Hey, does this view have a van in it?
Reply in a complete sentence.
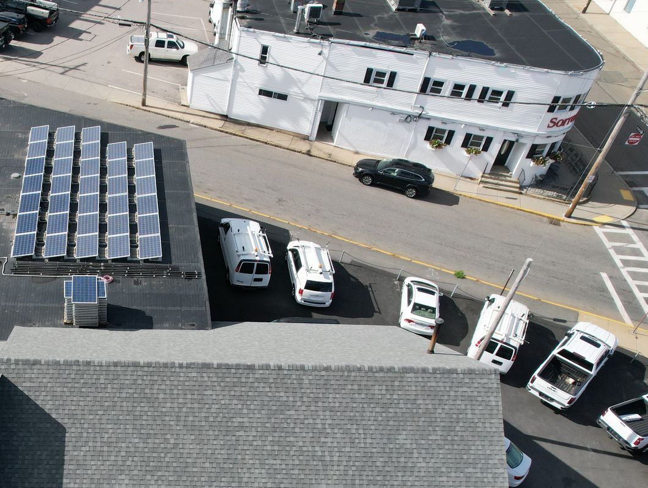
Yes, a van appears in the view.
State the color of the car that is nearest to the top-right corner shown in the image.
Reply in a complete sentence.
The color of the car that is nearest to the top-right corner is black.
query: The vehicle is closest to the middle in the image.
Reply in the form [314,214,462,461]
[281,243,339,309]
